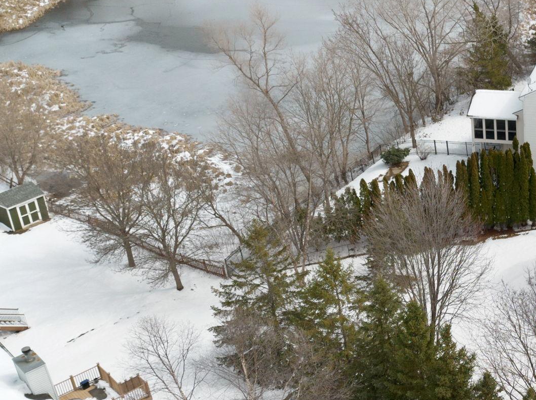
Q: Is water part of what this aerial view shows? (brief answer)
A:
Yes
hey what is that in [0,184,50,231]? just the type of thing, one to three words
shed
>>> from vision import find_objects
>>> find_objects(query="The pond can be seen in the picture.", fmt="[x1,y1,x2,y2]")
[0,0,524,212]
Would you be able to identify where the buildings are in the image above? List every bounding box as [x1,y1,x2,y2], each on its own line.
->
[0,184,50,231]
[0,342,59,400]
[461,63,536,158]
